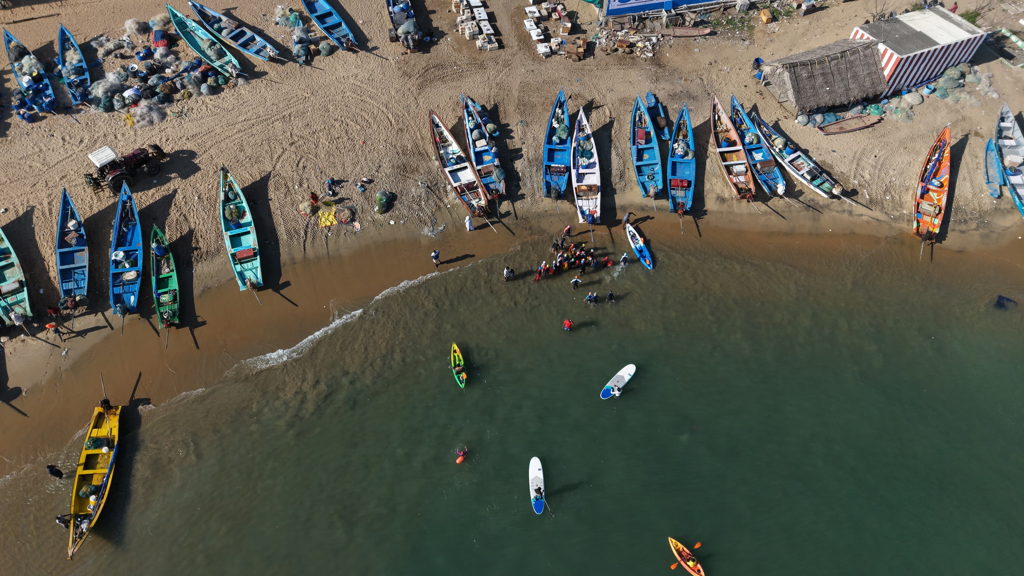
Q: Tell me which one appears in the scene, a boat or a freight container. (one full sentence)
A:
Visible in the photo is a boat.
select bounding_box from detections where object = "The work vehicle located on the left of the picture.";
[84,144,165,197]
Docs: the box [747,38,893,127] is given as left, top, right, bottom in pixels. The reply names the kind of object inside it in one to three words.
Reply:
shed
